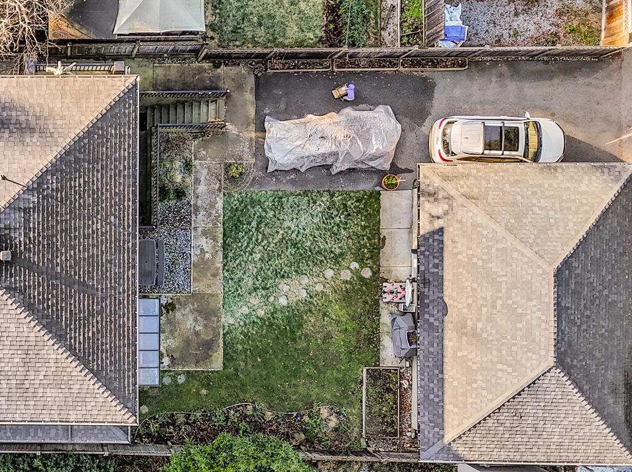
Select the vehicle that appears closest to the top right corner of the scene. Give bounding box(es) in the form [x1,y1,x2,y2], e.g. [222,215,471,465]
[428,108,564,161]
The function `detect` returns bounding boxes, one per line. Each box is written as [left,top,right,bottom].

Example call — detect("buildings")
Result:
[413,161,632,466]
[0,50,142,444]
